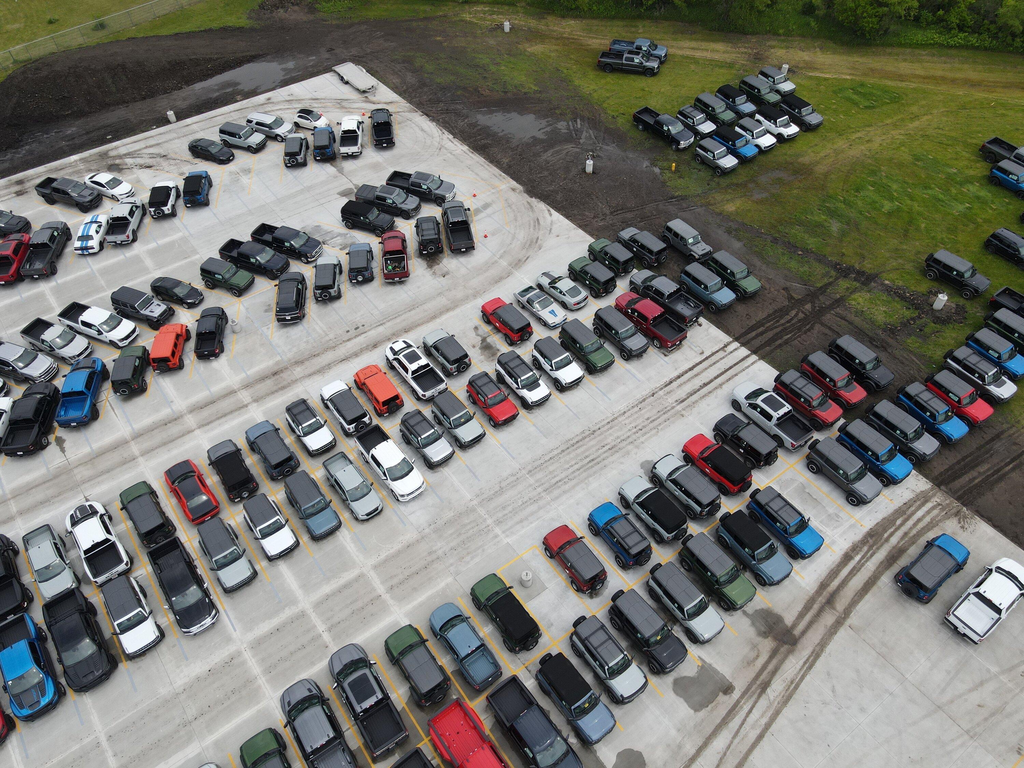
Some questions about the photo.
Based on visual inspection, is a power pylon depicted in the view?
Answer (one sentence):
No, the picture doesn't show any power pylon.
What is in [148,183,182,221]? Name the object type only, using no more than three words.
car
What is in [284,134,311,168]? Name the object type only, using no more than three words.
car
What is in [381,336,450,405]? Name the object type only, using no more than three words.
truck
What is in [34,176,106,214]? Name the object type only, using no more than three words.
truck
